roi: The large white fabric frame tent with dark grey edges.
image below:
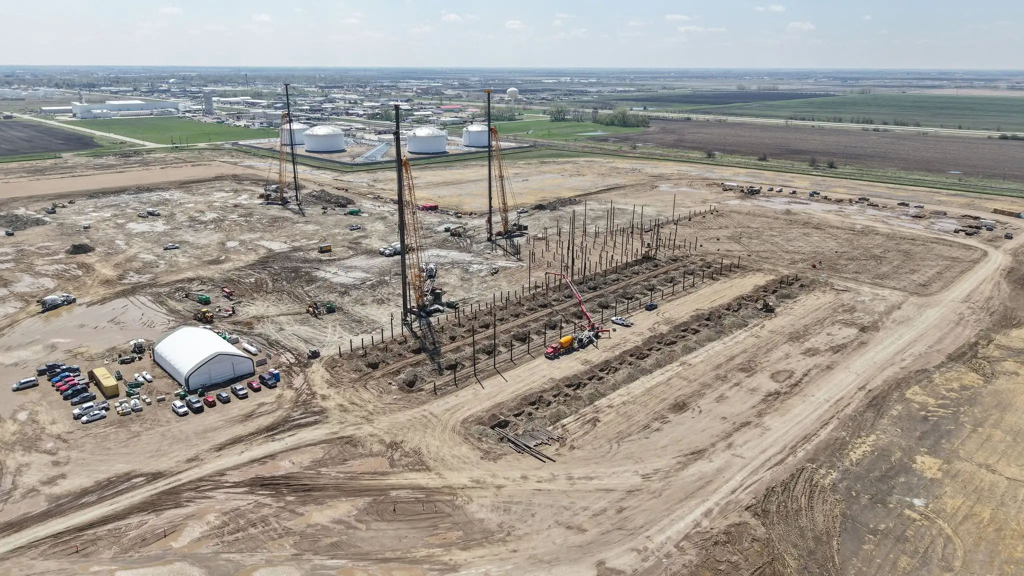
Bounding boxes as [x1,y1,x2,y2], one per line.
[154,323,255,393]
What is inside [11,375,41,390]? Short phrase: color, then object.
gray car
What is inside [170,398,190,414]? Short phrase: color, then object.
white car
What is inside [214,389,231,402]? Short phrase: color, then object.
gray vehicle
